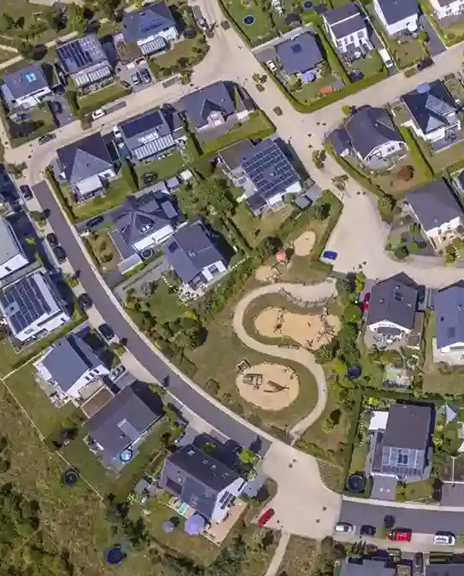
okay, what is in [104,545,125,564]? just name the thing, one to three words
trampoline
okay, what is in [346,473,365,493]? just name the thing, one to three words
trampoline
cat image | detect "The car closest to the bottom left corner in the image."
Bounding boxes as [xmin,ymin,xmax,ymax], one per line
[109,363,126,378]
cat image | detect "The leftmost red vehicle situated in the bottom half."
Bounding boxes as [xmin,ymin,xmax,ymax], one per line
[256,508,276,526]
